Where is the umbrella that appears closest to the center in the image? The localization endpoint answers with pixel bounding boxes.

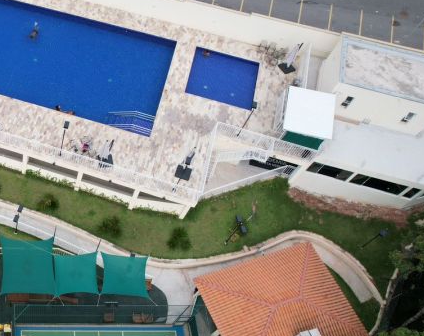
[177,149,201,178]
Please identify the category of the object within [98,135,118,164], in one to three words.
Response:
umbrella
